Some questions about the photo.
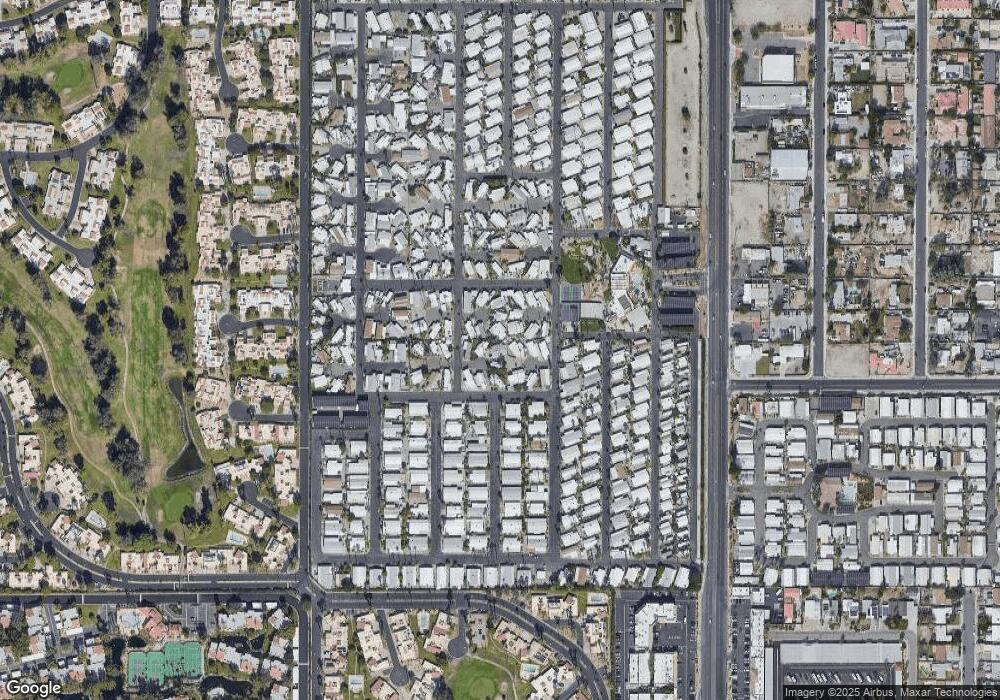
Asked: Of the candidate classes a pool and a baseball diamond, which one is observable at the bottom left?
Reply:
pool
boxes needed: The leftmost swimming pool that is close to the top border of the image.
[89,28,112,50]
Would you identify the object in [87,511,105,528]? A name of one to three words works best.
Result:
swimming pool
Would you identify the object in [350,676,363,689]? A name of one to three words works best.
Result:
swimming pool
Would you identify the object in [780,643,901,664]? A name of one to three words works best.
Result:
building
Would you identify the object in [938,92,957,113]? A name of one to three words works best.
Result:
house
